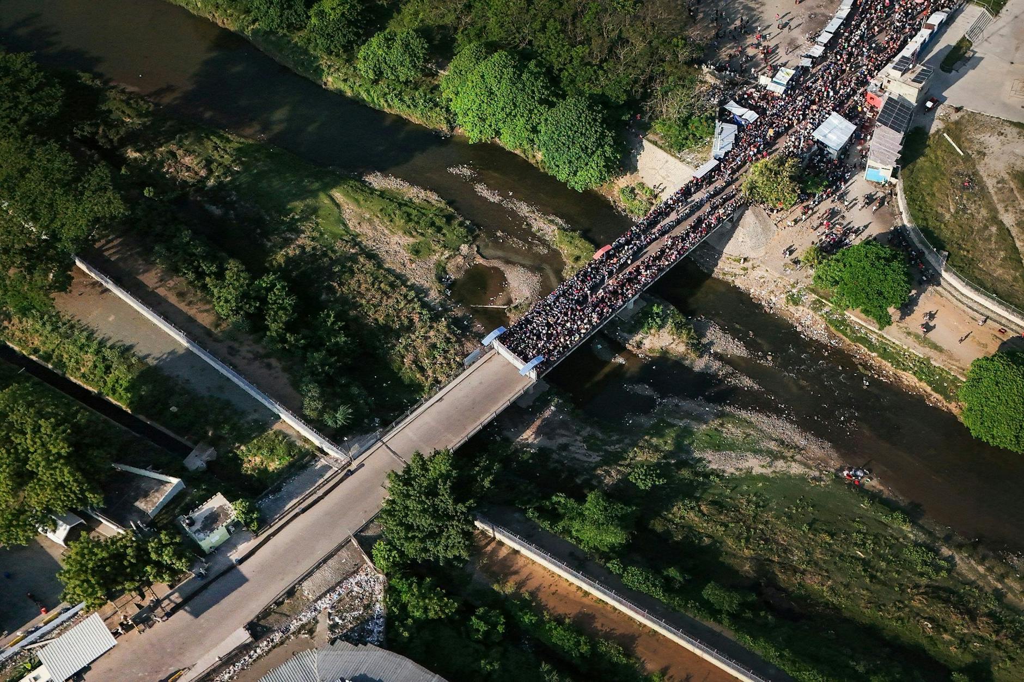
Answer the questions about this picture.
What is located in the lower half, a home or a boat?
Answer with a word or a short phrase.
home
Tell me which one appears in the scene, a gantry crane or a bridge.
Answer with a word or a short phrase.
bridge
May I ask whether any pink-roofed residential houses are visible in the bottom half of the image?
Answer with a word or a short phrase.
No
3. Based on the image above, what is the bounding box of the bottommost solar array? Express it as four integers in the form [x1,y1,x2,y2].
[876,96,913,133]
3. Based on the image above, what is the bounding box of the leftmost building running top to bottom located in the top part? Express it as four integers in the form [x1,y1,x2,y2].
[711,120,737,171]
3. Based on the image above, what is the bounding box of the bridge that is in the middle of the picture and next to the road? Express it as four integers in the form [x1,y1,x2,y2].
[397,179,745,461]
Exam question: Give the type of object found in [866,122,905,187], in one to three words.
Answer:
building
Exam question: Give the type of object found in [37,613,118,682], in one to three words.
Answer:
house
